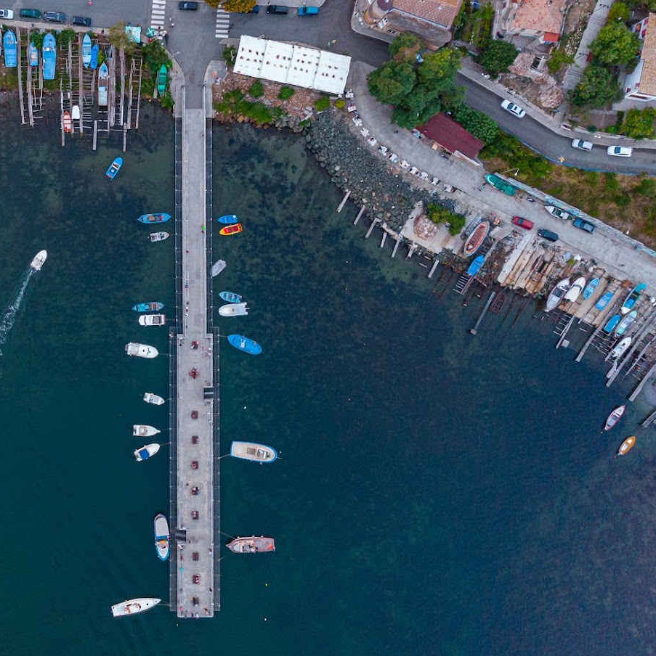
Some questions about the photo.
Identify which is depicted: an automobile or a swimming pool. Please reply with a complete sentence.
Of the two, only an automobile appears.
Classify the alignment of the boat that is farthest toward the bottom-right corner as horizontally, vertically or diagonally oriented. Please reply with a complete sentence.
The boat that is farthest toward the bottom-right corner runs diagonally in the image.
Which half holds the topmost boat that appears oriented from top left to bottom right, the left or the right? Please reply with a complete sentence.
The topmost boat that appears oriented from top left to bottom right is on the right side of the image.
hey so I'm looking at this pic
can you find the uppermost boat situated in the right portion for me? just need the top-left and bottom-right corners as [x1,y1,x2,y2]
[484,173,519,198]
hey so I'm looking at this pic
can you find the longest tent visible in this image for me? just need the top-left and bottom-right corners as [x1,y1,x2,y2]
[231,36,352,98]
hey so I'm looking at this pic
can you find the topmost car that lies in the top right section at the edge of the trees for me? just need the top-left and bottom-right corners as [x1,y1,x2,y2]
[499,100,527,121]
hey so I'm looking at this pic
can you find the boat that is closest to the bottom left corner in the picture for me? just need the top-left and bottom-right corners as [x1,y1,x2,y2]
[111,598,169,617]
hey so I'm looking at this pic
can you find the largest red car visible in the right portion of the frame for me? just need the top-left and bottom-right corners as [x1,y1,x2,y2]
[510,215,534,231]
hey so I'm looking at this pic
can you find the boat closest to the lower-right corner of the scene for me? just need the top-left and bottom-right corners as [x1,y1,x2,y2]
[615,436,636,458]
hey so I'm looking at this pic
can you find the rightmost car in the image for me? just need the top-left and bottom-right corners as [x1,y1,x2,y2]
[605,144,632,158]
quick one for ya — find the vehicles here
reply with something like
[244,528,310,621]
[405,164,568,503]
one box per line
[510,215,534,231]
[569,137,593,153]
[72,15,92,28]
[20,6,42,20]
[237,4,259,17]
[570,217,597,235]
[605,144,632,158]
[499,100,527,121]
[43,10,67,24]
[178,0,197,13]
[0,7,15,21]
[535,228,559,242]
[266,3,289,17]
[297,4,319,18]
